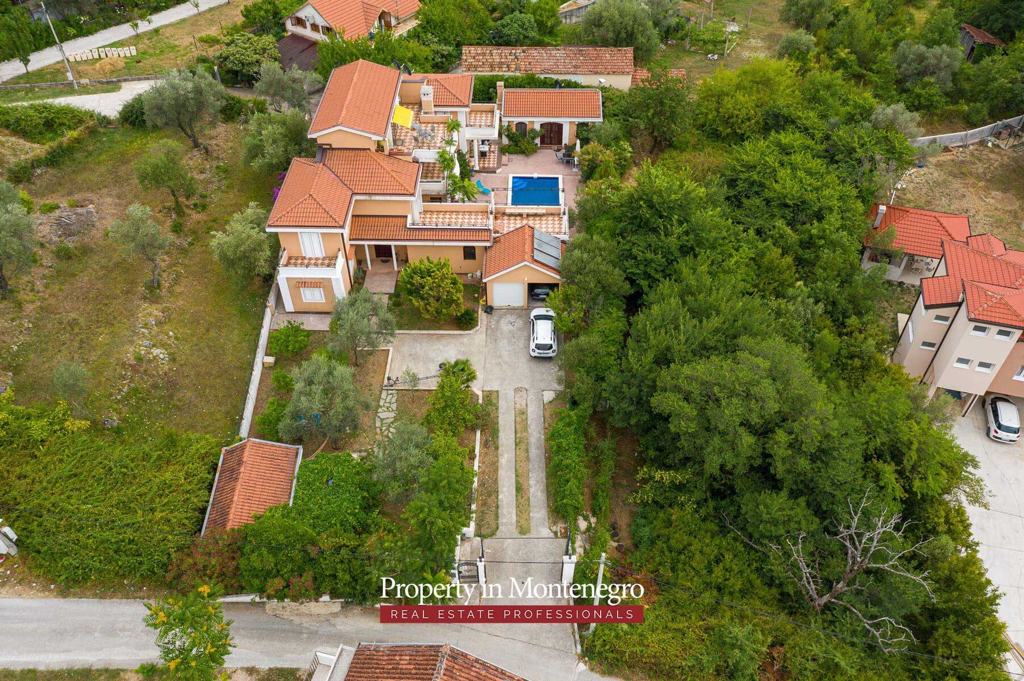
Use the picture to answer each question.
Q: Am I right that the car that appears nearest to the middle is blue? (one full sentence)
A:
No, from above the car that appears nearest to the middle looks white.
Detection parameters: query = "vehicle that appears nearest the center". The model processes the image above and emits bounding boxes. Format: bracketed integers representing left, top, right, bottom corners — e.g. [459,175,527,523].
[526,310,558,355]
